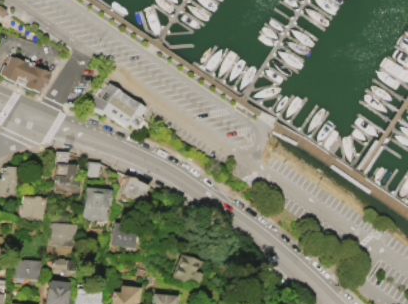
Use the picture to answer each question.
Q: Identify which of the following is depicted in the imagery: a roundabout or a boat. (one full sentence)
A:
The image shows a boat.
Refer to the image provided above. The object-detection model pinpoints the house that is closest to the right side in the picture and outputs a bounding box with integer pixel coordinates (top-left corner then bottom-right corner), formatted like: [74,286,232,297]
[172,254,205,286]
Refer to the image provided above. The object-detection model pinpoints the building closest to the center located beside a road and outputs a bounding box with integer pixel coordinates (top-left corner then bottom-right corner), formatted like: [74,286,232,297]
[122,176,152,200]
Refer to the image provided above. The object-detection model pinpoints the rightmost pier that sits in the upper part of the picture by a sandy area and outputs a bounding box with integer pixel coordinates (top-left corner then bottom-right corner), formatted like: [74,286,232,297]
[343,48,408,176]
